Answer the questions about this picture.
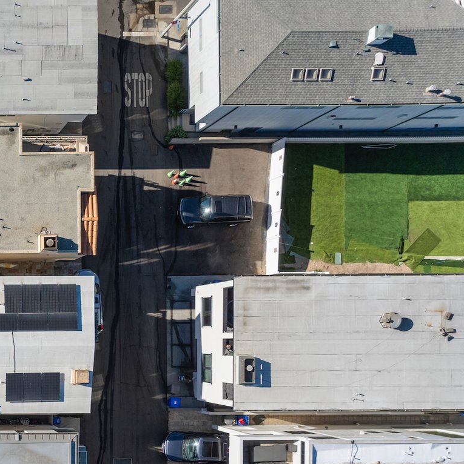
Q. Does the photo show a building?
Yes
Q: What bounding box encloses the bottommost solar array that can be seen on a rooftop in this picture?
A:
[6,374,59,401]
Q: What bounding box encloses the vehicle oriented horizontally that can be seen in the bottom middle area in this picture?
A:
[160,431,226,463]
